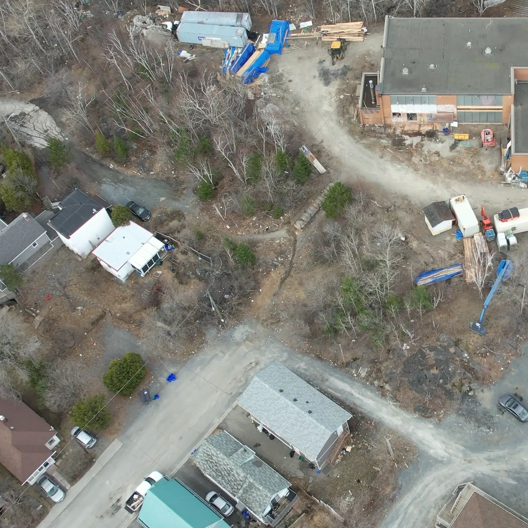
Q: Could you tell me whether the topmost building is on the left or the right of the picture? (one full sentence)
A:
The topmost building appears in the right half of the scene.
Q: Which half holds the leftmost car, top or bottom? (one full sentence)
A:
The leftmost car sits in the bottom half of the picture.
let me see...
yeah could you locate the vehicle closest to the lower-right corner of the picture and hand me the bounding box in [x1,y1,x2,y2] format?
[496,391,528,429]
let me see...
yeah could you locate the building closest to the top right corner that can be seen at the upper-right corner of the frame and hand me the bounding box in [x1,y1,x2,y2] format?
[360,16,528,171]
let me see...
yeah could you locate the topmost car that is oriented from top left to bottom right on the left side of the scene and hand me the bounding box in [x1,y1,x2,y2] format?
[124,199,155,225]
